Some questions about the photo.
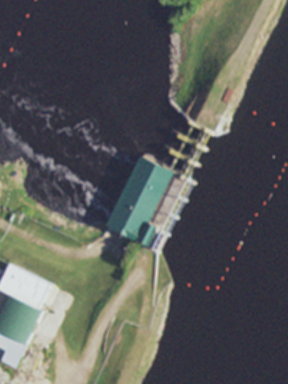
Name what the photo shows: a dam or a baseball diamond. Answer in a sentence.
I can see a dam in this picture.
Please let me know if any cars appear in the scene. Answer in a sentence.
No, there isn't any car down there.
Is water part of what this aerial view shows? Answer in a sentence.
Yes, there's water in this view.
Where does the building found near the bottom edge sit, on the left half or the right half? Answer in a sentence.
You can find the building found near the bottom edge on the left side of the picture.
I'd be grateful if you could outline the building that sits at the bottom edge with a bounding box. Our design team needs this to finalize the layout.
[0,264,60,369]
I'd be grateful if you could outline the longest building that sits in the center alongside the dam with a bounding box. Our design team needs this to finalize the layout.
[108,157,174,242]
